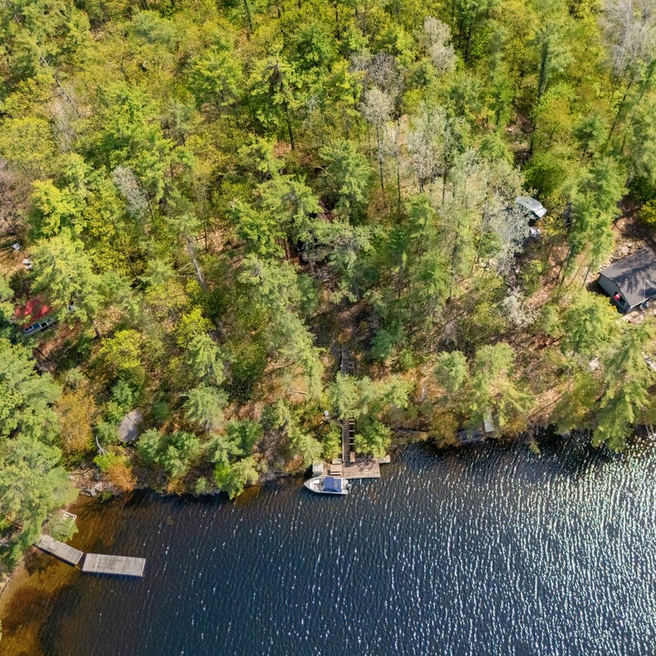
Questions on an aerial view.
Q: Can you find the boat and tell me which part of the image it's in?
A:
bottom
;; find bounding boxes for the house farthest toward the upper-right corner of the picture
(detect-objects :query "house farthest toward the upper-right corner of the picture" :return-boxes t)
[595,248,656,316]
